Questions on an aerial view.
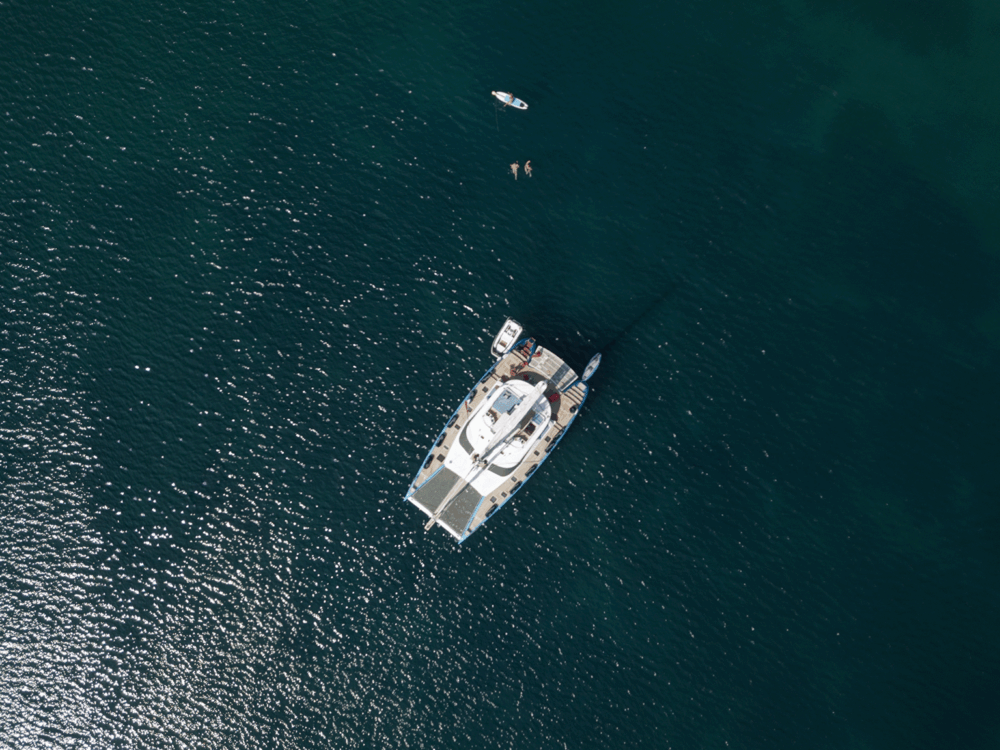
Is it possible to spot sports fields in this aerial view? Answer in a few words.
No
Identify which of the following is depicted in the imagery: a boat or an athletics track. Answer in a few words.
boat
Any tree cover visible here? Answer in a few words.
No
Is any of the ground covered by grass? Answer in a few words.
No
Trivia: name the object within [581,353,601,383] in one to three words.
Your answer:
boat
